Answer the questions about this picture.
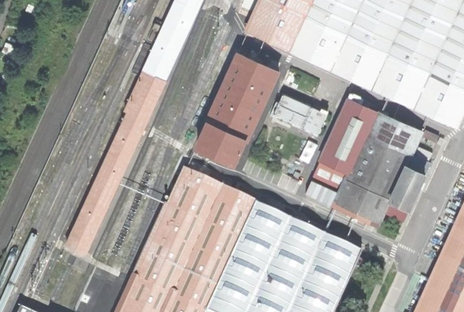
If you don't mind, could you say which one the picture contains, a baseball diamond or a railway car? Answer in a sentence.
Looking from above, you can make out a railway car.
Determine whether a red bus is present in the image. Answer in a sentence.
No, there appears to be no red bus in this shot.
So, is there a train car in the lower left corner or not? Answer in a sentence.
Yes, in the lower left corner there is a train car.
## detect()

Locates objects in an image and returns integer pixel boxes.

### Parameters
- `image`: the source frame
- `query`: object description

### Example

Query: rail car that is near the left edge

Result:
[0,244,18,288]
